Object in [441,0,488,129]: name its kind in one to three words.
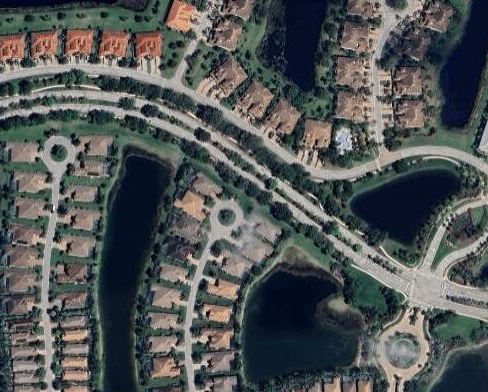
pond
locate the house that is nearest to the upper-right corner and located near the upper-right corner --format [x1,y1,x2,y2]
[416,0,458,33]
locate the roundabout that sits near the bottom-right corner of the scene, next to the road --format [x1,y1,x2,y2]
[376,324,429,376]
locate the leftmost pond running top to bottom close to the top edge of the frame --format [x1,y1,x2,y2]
[286,0,330,92]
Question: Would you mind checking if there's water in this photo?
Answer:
Yes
